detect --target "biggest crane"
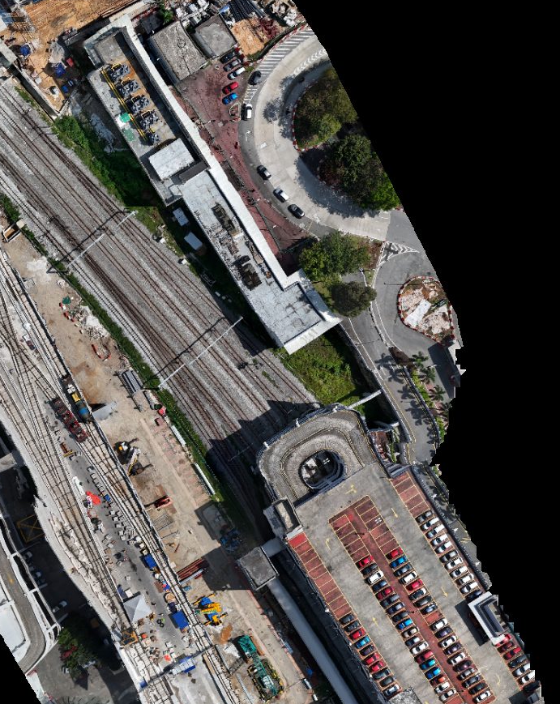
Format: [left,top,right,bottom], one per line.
[234,634,282,697]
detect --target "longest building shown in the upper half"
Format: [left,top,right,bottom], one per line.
[82,17,341,353]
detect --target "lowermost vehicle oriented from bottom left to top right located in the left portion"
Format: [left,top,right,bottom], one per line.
[51,599,68,613]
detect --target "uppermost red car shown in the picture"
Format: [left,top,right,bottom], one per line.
[222,81,238,94]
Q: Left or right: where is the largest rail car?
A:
left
